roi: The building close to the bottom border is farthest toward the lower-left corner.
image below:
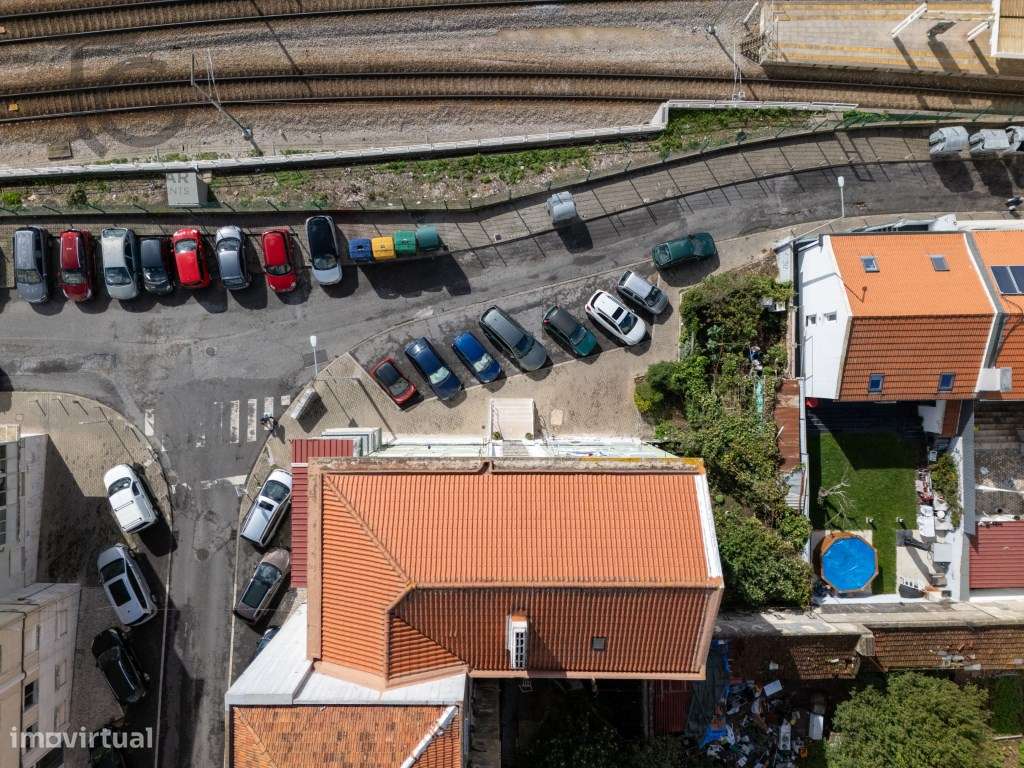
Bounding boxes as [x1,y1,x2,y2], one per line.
[0,586,79,768]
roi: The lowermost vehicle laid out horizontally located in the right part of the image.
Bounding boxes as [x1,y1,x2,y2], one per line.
[653,228,721,268]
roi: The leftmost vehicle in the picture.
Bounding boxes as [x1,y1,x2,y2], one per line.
[9,228,51,303]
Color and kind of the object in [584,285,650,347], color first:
white car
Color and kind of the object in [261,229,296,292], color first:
red car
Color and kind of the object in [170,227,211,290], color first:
red car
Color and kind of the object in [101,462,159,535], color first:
white car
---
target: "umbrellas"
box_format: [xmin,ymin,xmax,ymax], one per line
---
[896,531,939,551]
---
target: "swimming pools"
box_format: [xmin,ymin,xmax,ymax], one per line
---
[810,525,881,594]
